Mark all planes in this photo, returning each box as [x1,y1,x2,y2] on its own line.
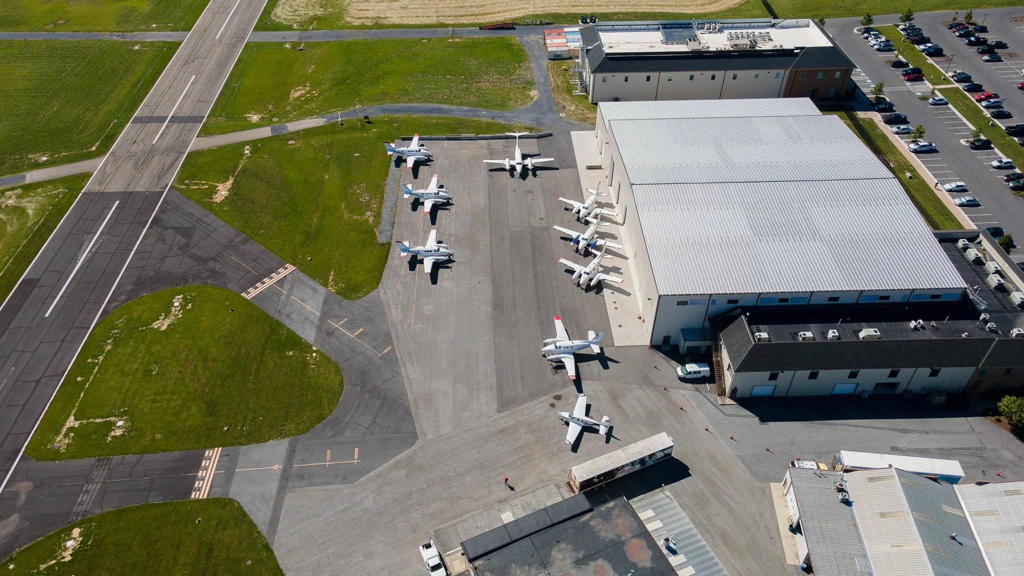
[403,174,453,214]
[482,134,556,176]
[537,315,602,380]
[553,244,630,290]
[553,182,621,222]
[387,134,433,168]
[551,212,624,254]
[555,393,611,443]
[399,227,455,276]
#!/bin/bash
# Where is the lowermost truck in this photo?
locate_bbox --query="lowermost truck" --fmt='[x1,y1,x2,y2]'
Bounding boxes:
[416,538,449,576]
